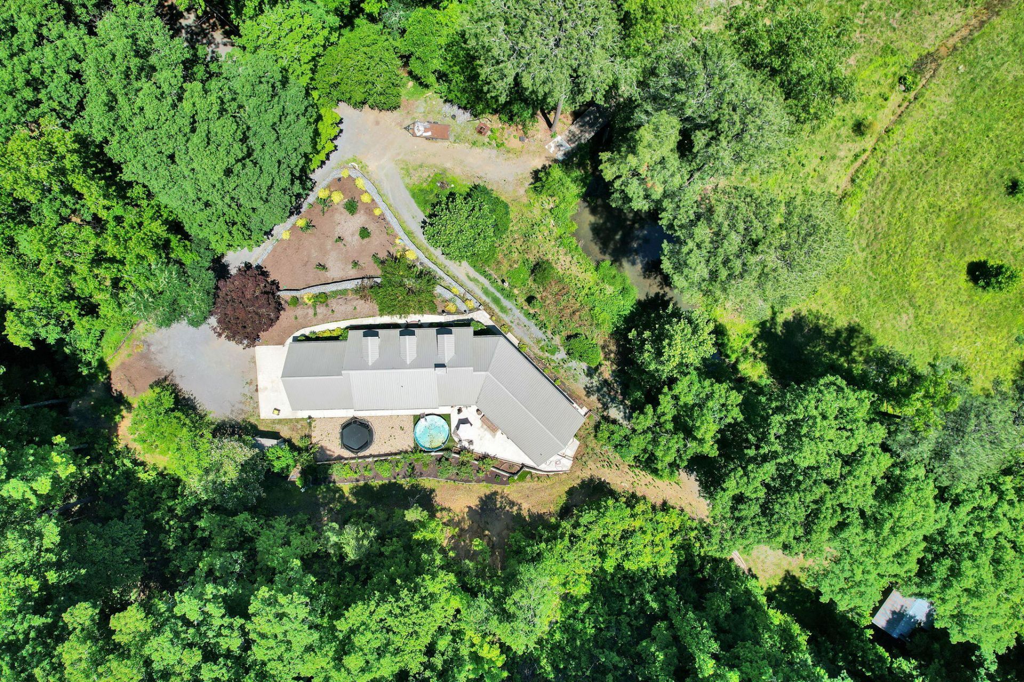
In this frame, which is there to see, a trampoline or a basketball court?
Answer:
trampoline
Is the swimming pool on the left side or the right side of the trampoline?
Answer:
right of it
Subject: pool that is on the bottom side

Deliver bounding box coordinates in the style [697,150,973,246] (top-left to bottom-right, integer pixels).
[414,414,451,451]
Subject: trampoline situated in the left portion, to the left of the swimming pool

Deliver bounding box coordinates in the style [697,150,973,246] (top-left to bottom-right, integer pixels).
[338,418,374,456]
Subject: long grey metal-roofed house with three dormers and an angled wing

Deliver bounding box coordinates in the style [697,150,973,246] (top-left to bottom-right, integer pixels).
[281,327,586,467]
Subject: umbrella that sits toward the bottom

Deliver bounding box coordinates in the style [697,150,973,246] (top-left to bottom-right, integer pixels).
[456,422,479,443]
